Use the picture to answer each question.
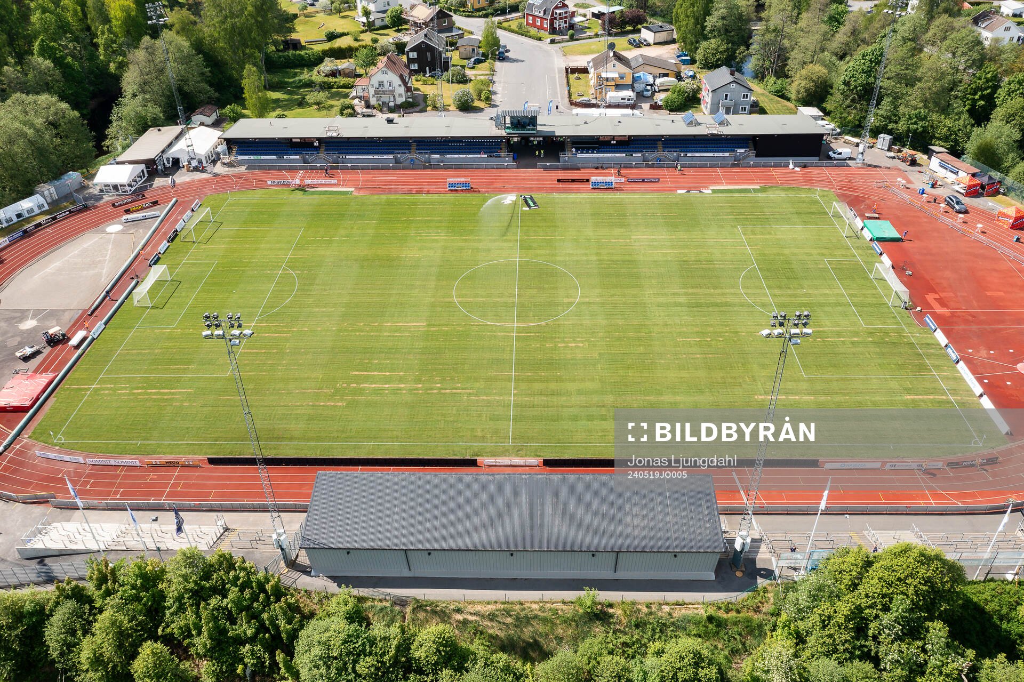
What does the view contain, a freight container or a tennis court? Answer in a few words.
freight container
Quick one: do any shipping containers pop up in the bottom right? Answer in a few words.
No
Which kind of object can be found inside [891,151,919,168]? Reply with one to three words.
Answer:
work vehicle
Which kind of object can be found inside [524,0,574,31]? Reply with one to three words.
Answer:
house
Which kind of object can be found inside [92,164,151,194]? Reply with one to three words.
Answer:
tent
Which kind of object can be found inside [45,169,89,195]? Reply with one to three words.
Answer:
shipping container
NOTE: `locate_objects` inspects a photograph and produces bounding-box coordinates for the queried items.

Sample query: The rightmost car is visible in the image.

[941,195,973,212]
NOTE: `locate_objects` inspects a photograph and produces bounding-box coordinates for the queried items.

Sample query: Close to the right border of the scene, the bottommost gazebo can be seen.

[992,202,1024,229]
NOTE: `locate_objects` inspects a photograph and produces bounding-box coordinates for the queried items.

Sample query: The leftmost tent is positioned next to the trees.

[0,188,48,229]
